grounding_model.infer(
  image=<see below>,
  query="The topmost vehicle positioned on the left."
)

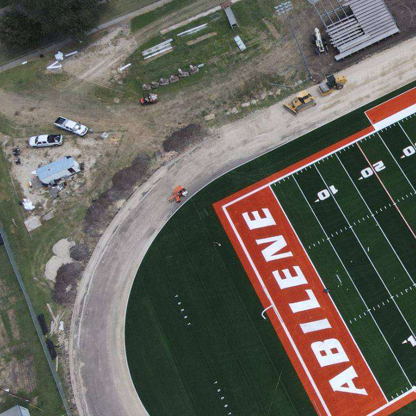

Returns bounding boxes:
[139,88,159,106]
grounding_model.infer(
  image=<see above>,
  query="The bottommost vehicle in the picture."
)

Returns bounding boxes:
[170,183,191,211]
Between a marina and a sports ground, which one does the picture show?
sports ground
